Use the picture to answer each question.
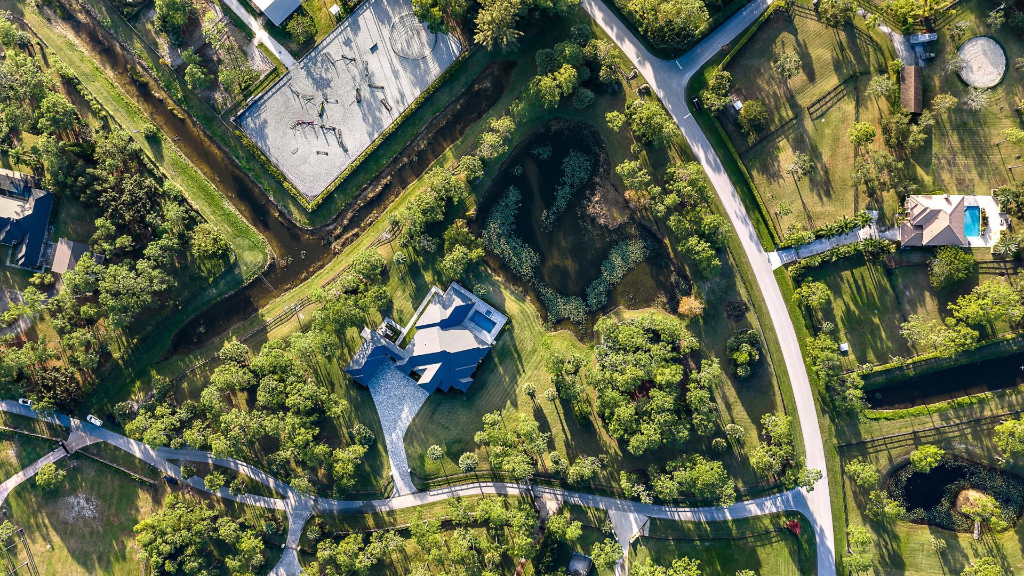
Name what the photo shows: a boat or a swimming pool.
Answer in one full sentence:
There is a swimming pool in the scene.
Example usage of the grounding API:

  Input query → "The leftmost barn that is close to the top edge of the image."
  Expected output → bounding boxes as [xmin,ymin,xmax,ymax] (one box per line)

[254,0,304,28]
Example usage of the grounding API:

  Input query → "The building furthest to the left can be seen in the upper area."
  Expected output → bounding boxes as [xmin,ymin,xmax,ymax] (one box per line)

[0,188,59,267]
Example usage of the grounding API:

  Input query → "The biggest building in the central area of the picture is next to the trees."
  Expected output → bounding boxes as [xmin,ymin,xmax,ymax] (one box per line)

[344,287,491,398]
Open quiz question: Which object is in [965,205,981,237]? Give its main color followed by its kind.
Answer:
blue swimming pool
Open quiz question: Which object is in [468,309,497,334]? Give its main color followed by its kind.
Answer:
blue swimming pool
